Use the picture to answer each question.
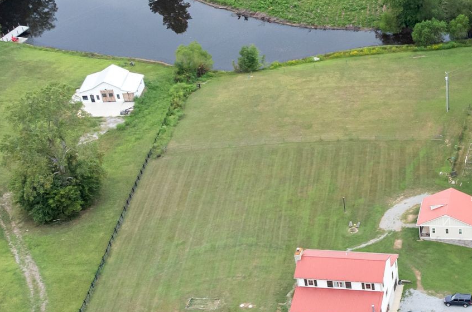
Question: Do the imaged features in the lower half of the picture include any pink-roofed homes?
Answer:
Yes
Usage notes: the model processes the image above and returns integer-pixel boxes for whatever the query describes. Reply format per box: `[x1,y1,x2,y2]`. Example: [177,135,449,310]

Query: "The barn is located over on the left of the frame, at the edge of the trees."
[79,64,148,103]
